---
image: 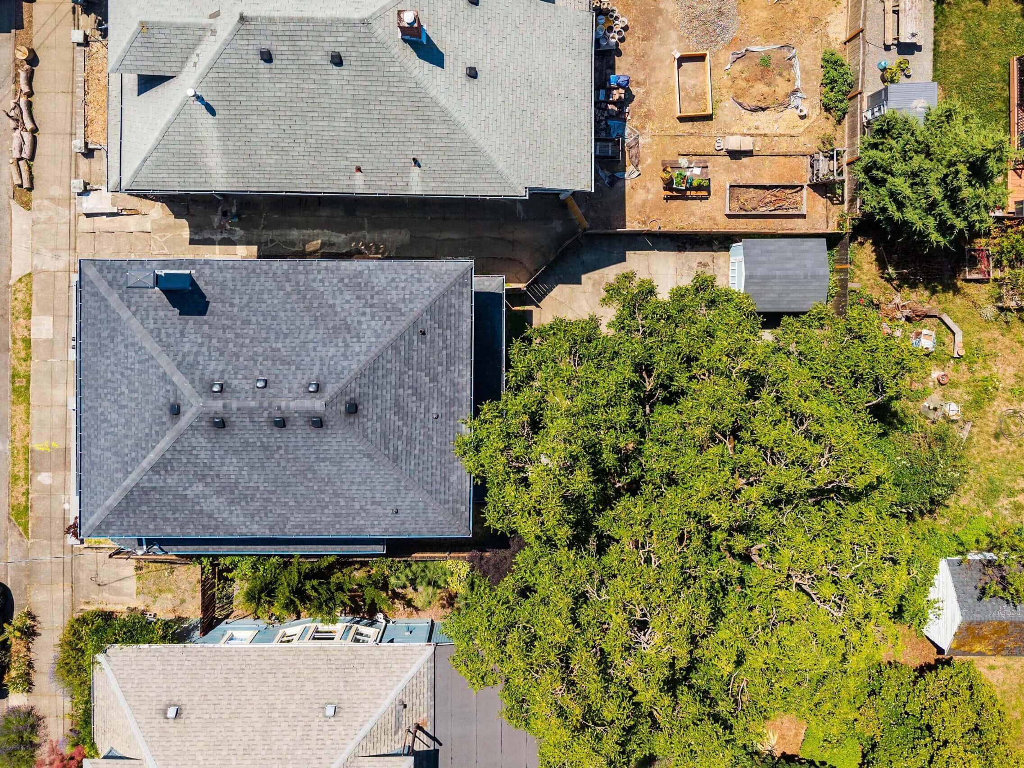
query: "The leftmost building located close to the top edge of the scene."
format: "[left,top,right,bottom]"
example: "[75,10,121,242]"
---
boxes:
[105,0,596,202]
